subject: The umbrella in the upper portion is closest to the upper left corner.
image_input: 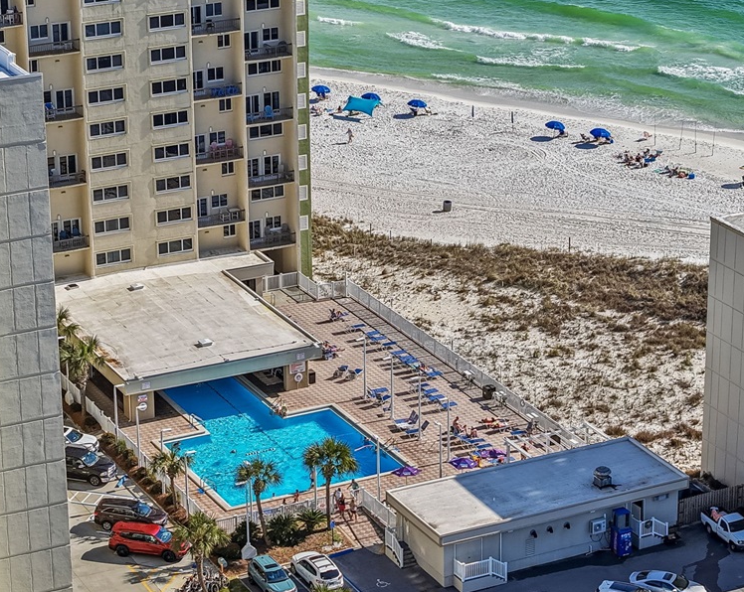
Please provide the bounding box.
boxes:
[310,84,332,100]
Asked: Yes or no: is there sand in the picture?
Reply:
Yes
